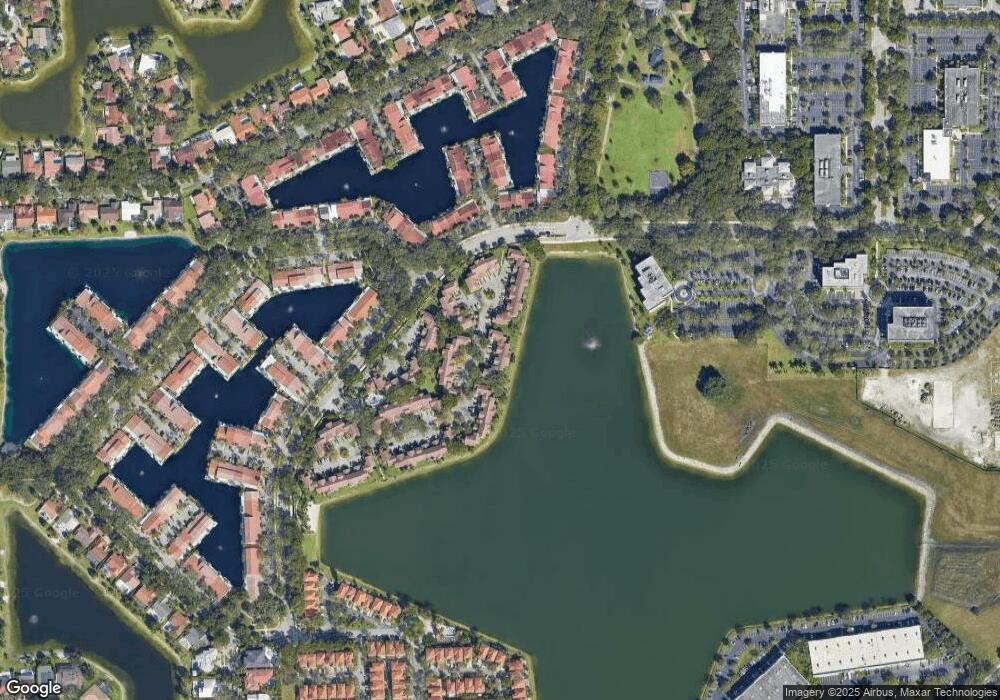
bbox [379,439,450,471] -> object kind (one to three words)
building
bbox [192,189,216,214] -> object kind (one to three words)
house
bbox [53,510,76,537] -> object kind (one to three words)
house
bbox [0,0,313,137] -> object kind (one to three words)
pond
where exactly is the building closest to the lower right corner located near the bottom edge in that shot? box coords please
[808,625,924,674]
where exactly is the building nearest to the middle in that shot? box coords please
[487,329,512,373]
